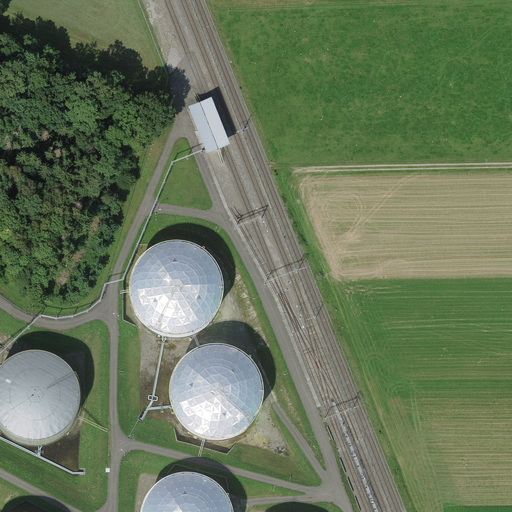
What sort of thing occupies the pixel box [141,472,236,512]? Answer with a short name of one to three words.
storage tank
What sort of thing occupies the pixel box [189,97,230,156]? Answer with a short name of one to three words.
shed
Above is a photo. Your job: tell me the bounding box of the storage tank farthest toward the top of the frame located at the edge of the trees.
[130,240,226,337]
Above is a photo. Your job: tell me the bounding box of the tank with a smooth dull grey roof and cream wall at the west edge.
[0,349,84,444]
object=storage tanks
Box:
[0,349,84,444]
[169,343,266,440]
[130,240,226,337]
[141,472,236,512]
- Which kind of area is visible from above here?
industrial area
